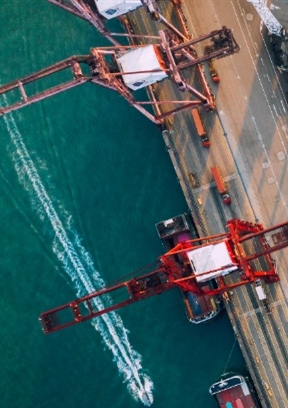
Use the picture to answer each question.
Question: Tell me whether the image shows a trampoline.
No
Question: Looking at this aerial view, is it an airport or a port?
port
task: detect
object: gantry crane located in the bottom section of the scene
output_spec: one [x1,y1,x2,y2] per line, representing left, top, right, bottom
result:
[35,219,288,338]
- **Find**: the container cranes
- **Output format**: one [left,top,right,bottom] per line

[0,20,250,134]
[35,219,288,338]
[25,0,198,52]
